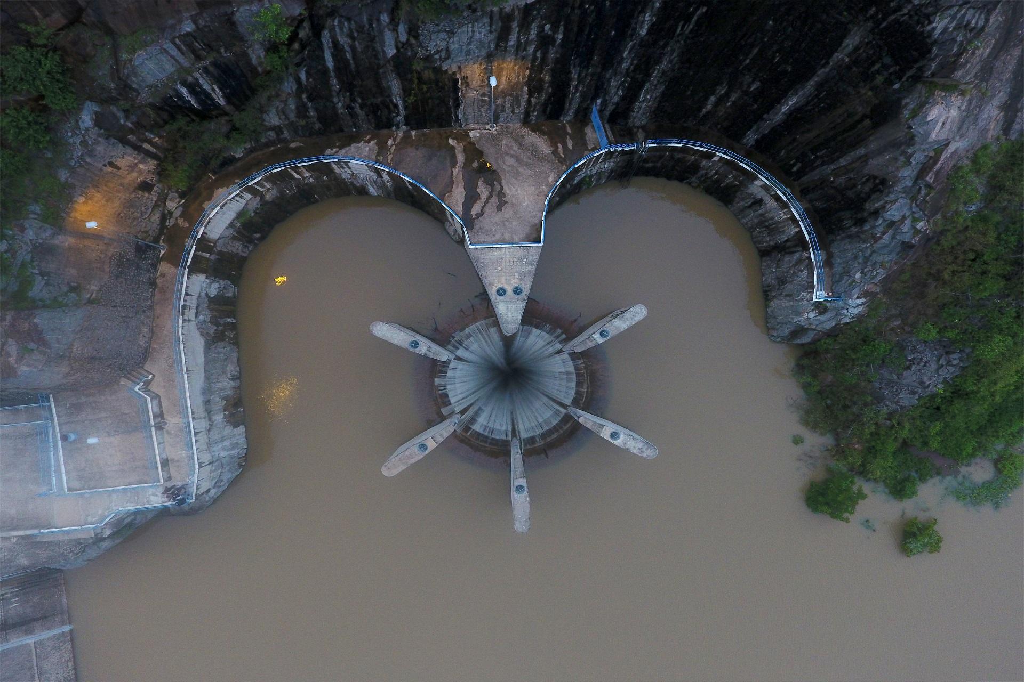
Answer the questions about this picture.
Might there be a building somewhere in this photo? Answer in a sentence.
No, no building is visible in the scene.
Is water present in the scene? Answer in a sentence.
Yes, water shows up in the scene.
